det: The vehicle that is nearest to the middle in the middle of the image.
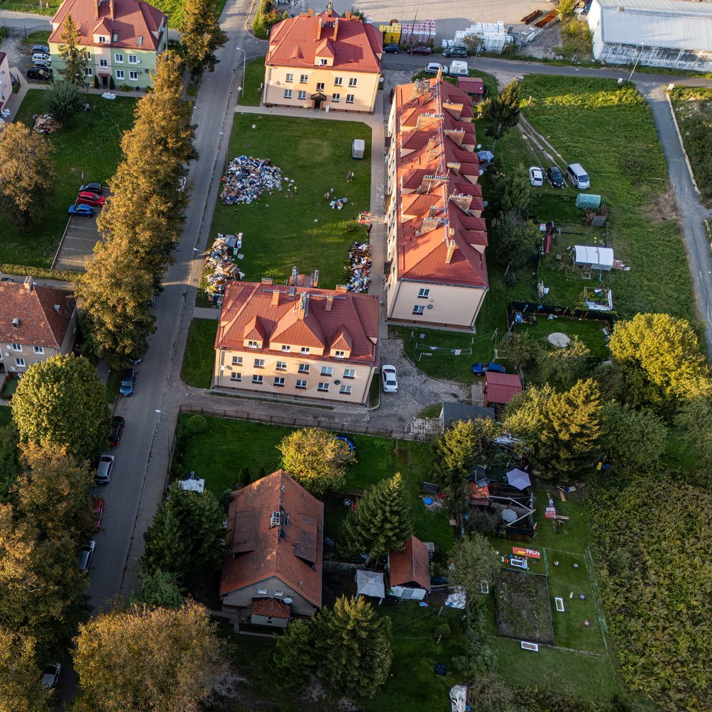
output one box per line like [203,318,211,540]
[382,365,398,395]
